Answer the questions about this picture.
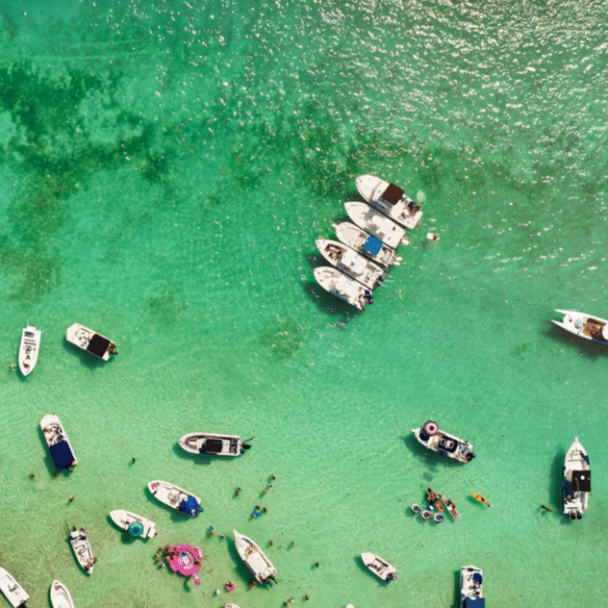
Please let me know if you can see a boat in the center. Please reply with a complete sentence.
Yes, a boat shows up in the center.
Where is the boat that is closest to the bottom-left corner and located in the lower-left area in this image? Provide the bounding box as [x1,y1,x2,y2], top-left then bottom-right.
[0,569,29,608]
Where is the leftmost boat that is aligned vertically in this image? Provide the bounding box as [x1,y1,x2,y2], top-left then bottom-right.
[18,323,42,376]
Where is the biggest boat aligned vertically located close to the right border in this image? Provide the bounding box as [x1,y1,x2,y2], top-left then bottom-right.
[559,434,591,520]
